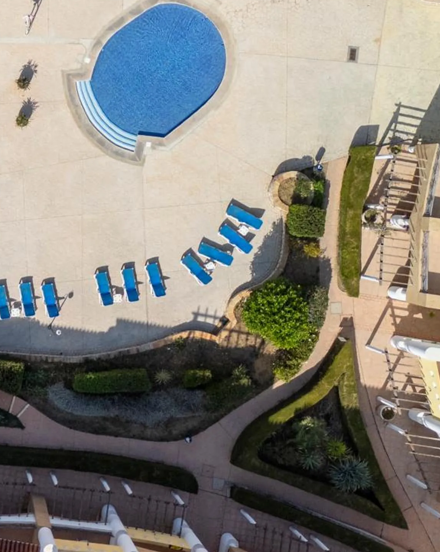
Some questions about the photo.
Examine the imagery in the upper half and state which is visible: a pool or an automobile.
pool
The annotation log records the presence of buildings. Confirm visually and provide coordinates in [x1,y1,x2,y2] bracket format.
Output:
[0,484,208,552]
[374,328,440,458]
[373,144,440,310]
